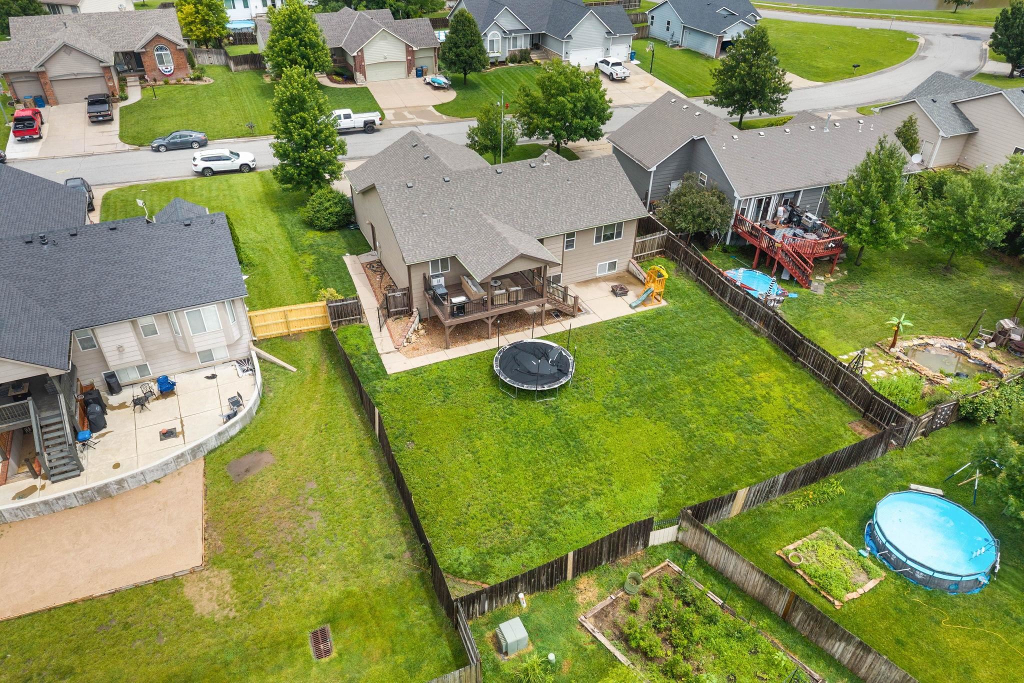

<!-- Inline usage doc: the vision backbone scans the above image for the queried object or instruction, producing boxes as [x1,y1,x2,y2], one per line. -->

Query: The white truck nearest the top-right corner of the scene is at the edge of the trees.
[602,58,630,79]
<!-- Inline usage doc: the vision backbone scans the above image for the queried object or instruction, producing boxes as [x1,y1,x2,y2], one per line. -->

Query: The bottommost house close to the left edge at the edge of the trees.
[0,164,255,390]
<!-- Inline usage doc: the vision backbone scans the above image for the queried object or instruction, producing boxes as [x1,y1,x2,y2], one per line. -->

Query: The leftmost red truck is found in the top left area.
[9,109,38,137]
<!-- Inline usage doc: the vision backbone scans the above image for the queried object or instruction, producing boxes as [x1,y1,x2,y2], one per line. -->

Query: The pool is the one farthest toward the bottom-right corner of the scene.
[868,491,998,596]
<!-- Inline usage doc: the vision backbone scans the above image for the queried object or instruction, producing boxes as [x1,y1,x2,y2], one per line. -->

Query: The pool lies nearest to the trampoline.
[729,271,792,308]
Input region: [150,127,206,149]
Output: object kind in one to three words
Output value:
car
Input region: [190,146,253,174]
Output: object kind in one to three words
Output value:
car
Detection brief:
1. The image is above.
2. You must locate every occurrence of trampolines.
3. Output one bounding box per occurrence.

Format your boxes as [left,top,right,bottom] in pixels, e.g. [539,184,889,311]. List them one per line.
[494,322,575,400]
